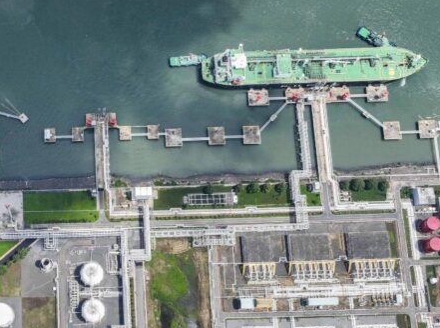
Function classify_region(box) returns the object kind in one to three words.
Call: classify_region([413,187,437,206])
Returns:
building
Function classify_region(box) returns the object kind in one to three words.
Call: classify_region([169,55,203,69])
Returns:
boat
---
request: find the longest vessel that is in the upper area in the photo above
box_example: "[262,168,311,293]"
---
[201,44,429,88]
